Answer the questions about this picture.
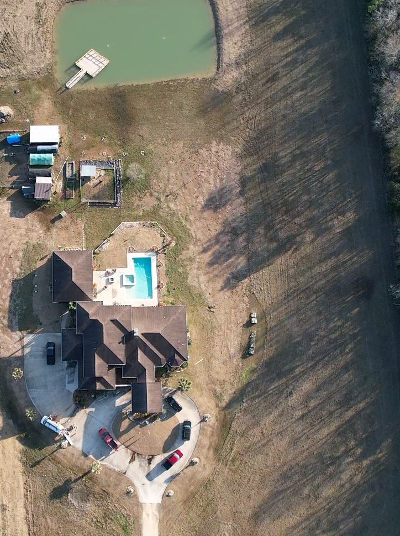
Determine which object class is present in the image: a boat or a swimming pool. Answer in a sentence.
I can see a swimming pool in this picture.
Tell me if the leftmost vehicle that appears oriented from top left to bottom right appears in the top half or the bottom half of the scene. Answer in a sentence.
You can find the leftmost vehicle that appears oriented from top left to bottom right in the bottom half.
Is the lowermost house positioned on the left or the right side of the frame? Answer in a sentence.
It is on the left.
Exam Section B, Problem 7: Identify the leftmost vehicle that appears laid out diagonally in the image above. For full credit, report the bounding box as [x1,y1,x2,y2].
[40,416,65,436]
